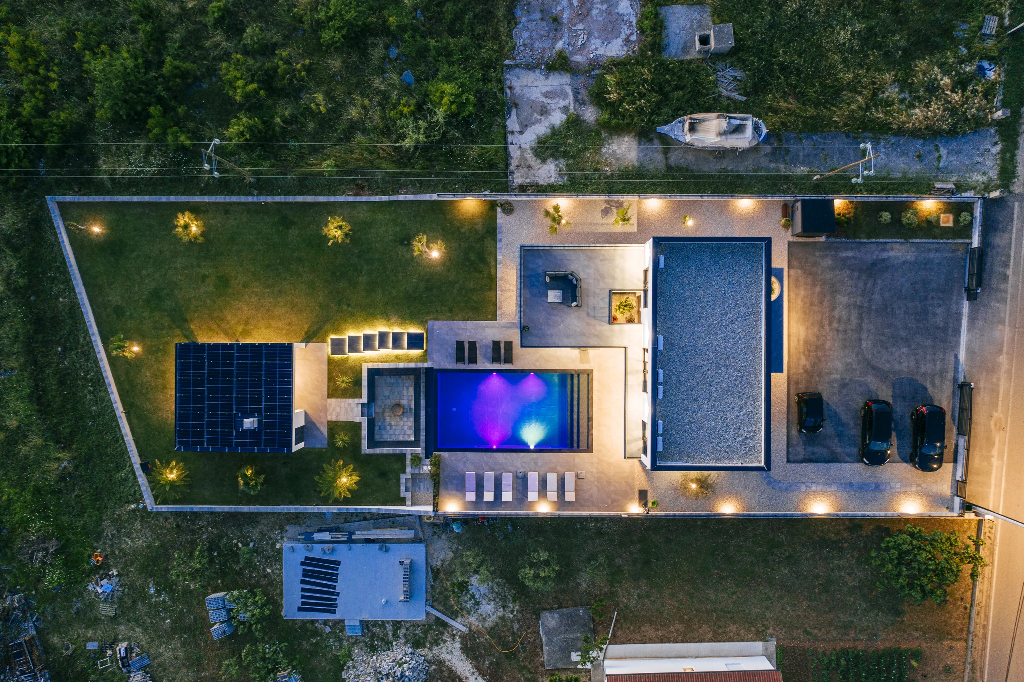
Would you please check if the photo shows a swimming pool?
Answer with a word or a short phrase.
Yes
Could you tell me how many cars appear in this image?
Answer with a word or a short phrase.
three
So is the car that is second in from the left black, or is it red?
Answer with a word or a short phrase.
black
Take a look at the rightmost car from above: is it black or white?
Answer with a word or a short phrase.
black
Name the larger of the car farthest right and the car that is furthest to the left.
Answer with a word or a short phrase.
the car farthest right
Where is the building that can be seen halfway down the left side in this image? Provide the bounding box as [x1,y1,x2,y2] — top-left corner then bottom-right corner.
[173,343,305,452]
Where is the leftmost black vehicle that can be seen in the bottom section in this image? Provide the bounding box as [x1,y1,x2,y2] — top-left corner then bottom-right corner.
[795,393,828,433]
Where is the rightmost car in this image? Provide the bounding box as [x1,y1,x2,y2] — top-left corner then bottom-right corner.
[909,405,949,473]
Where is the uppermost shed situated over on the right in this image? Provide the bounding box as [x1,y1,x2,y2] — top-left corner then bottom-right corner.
[791,198,836,237]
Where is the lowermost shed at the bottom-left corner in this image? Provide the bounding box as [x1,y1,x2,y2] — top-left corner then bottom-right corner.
[7,640,46,682]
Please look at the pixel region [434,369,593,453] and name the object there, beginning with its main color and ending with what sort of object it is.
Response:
blue swimming pool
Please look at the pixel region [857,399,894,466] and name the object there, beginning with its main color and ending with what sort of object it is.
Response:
black car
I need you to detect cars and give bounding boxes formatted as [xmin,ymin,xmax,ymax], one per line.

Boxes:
[909,405,949,473]
[795,393,828,433]
[857,399,894,466]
